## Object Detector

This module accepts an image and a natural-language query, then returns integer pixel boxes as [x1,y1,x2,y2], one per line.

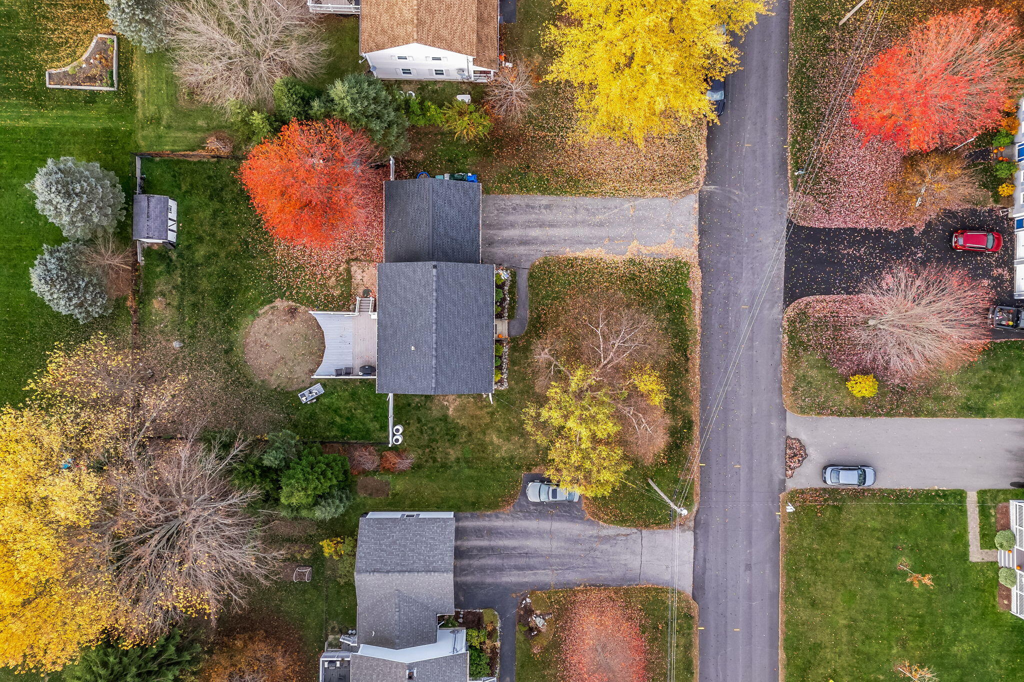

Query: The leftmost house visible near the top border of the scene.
[352,0,501,83]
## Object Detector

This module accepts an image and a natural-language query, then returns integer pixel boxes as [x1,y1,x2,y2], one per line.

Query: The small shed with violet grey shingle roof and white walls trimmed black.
[135,194,181,253]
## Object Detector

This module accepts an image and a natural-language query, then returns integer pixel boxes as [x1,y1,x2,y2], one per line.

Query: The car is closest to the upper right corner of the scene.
[947,229,1000,254]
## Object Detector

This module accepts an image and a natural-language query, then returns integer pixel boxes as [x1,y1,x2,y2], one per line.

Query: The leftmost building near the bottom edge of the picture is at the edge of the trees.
[349,512,470,682]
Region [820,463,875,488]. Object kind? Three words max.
car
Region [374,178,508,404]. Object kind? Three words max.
house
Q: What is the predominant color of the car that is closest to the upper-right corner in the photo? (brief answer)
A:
red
